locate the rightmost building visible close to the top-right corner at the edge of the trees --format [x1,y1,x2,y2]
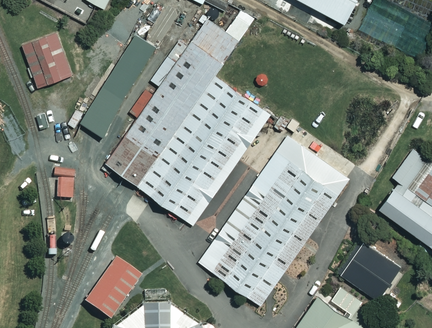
[358,0,432,56]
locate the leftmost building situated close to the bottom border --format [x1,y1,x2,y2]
[85,258,142,318]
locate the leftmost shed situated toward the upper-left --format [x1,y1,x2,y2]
[22,32,72,88]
